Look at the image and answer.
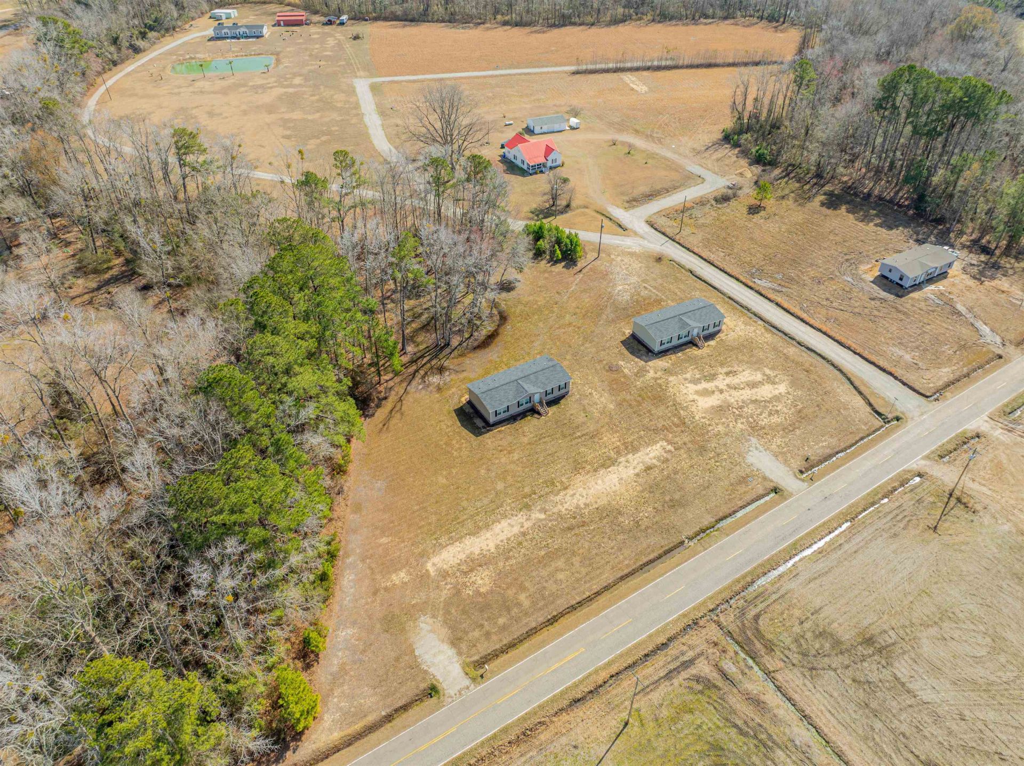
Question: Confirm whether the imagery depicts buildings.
Yes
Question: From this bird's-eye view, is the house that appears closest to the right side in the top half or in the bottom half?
top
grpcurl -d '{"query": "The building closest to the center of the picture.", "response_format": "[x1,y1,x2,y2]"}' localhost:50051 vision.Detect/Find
[467,357,572,424]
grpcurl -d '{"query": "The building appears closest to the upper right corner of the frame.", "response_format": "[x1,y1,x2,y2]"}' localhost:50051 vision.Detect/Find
[878,244,958,287]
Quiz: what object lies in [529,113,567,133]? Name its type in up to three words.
shed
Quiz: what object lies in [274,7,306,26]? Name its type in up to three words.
barn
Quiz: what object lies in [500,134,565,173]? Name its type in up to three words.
house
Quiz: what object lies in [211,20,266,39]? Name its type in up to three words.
house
